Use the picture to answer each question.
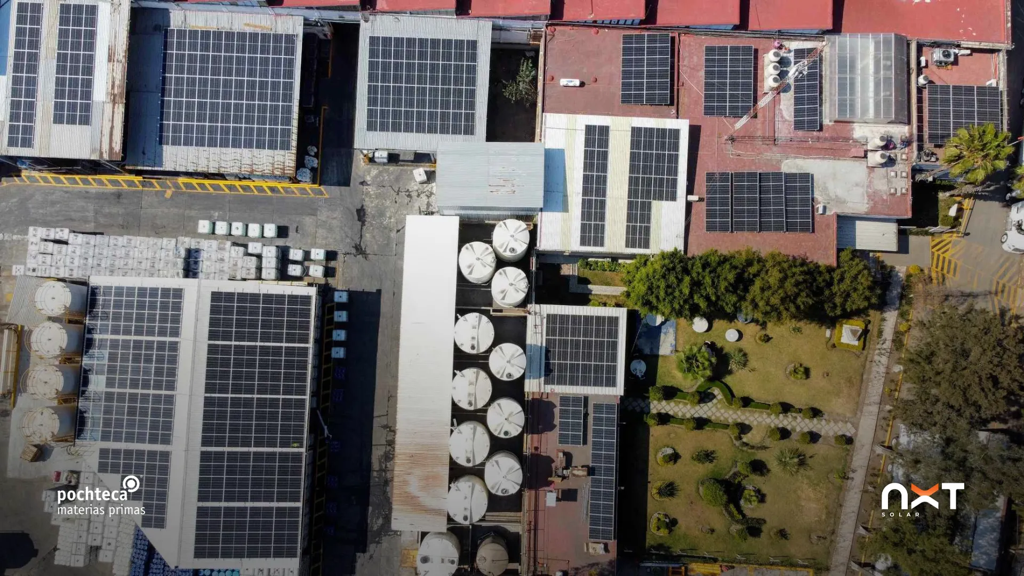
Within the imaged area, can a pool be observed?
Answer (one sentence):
No, there is no pool in the image.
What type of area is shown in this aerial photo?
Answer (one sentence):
This looks like an industrial area.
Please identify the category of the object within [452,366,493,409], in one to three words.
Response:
storage tank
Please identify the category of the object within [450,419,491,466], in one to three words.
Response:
storage tank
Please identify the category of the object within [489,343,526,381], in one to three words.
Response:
water tank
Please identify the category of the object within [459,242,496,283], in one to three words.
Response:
water tank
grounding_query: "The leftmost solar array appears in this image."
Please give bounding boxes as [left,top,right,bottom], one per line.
[8,2,43,148]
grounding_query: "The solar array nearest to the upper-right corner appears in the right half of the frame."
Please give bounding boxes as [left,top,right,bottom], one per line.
[926,84,1000,145]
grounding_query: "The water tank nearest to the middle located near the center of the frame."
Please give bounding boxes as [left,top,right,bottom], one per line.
[492,267,529,307]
